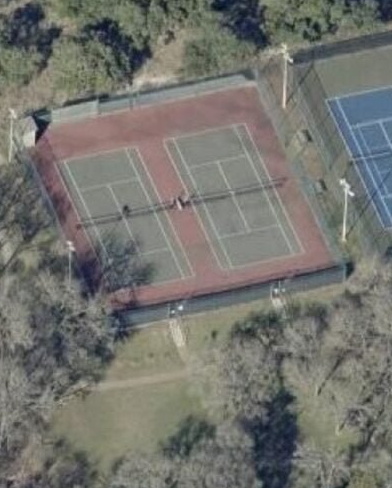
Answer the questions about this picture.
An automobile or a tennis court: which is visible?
tennis court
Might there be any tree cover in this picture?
Yes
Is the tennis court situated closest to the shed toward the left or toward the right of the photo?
left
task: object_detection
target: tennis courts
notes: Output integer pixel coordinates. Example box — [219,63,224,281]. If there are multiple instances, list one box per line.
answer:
[164,122,304,269]
[55,146,194,293]
[327,87,392,229]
